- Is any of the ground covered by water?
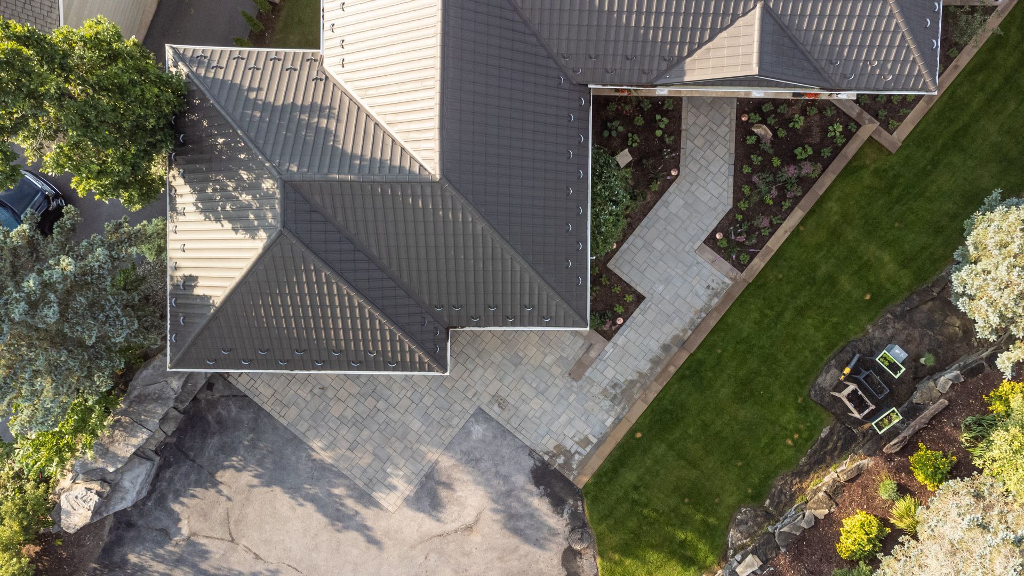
No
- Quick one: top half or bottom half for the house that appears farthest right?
top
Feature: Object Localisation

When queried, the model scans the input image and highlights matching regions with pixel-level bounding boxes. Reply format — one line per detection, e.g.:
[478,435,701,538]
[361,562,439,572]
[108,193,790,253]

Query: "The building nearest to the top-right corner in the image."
[166,0,941,373]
